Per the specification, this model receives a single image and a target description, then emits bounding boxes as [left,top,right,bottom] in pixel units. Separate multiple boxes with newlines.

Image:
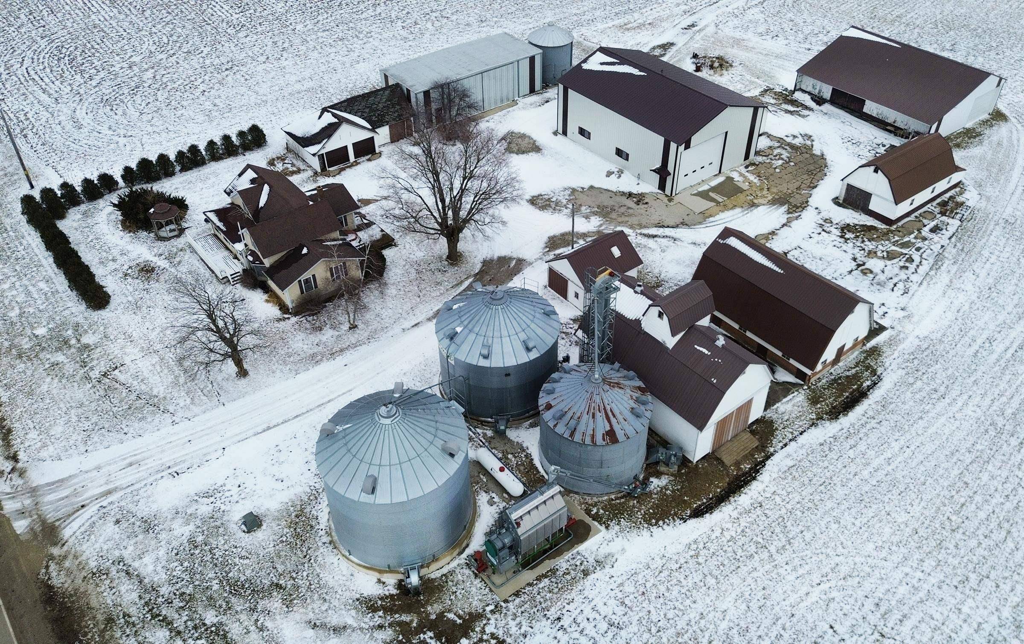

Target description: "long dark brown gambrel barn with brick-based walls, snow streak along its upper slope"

[690,226,889,386]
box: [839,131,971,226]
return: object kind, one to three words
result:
barn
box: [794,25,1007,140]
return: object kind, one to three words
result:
shed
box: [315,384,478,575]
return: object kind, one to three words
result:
silo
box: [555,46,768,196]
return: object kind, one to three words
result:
shed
